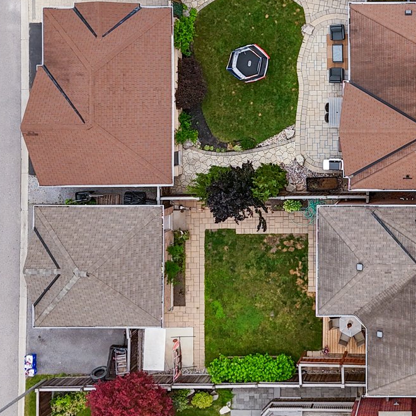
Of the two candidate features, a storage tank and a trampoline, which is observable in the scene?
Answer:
trampoline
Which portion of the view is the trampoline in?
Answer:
top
